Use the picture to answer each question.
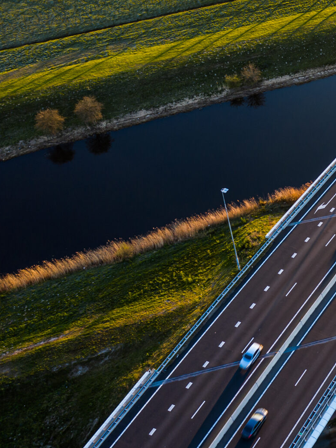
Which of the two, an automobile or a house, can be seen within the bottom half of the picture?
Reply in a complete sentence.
What appears within the bottom half of the picture is an automobile.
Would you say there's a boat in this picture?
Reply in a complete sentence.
No, the frame has no boat in it.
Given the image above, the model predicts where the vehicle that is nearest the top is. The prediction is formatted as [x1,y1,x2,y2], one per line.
[237,342,263,370]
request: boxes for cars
[240,408,270,442]
[237,342,263,370]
